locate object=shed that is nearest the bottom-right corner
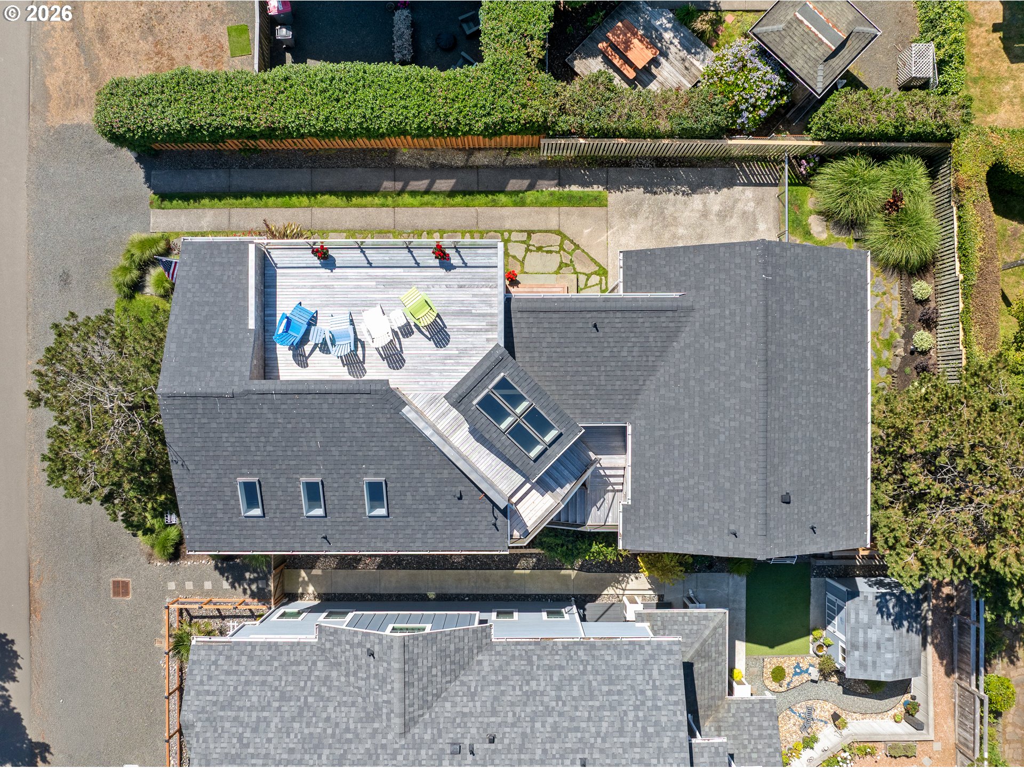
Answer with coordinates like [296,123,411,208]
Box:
[824,578,922,688]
